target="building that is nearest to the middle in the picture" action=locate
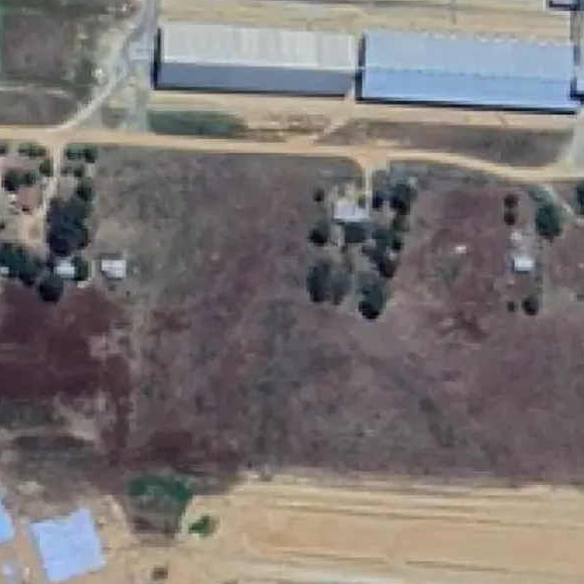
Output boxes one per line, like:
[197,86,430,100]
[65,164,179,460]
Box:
[334,201,369,221]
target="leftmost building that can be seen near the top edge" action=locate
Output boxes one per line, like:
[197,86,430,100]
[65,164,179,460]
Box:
[155,23,357,94]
